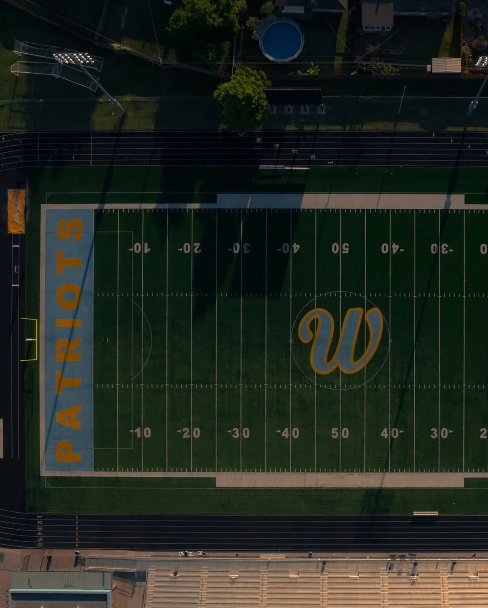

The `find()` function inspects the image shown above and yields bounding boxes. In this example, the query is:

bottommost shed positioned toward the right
[431,57,460,74]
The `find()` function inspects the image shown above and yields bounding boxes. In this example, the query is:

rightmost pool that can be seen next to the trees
[257,13,304,63]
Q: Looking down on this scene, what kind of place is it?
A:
sports ground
